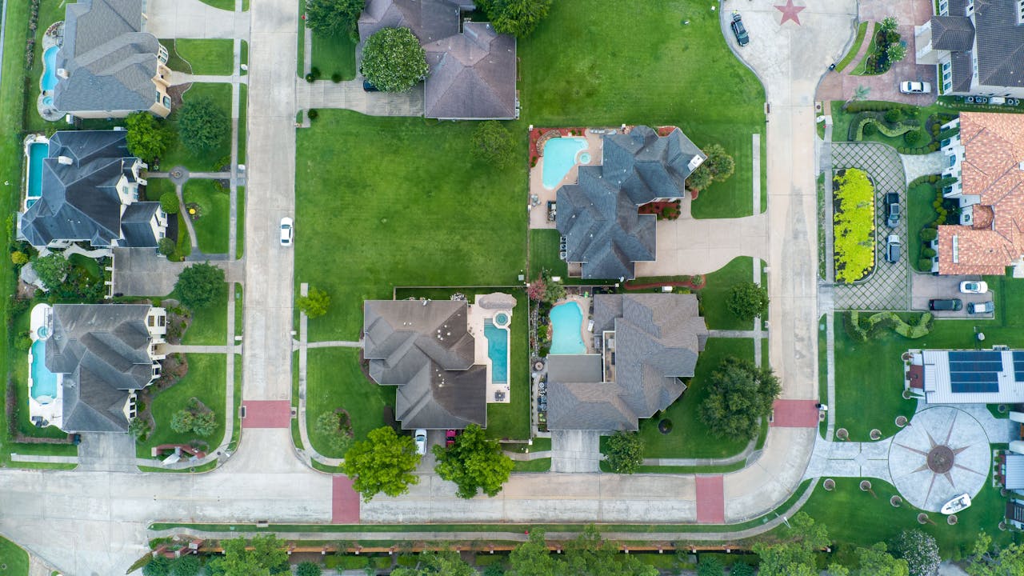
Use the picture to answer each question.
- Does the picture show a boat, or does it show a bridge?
boat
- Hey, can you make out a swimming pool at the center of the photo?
Yes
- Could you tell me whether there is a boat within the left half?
No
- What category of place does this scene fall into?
residential area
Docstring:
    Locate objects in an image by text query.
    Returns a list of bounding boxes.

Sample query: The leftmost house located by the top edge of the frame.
[54,0,178,117]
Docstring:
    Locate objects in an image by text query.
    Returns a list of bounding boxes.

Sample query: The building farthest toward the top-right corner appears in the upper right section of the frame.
[906,0,1024,97]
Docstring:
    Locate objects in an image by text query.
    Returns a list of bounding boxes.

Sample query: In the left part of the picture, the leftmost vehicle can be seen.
[279,218,293,246]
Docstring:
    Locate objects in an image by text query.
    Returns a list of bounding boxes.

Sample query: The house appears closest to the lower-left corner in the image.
[45,304,173,433]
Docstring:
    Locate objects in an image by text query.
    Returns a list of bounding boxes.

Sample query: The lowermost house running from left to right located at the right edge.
[905,348,1024,405]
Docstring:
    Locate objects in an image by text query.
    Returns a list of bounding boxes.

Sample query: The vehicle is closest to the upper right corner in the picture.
[899,79,930,93]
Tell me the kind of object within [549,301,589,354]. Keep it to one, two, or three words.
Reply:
swimming pool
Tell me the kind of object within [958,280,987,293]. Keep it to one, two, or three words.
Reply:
vehicle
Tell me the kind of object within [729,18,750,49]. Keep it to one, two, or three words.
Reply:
car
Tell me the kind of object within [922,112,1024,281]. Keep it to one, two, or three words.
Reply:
house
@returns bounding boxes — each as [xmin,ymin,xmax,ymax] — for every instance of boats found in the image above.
[936,491,974,515]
